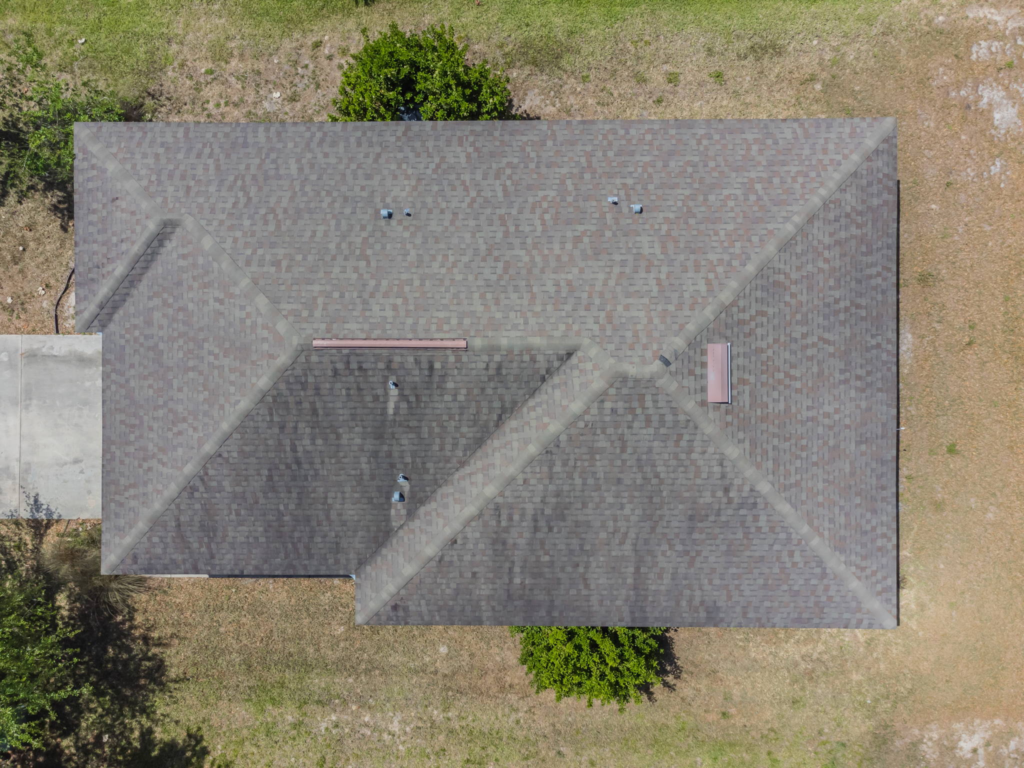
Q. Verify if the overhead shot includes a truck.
No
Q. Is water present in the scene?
No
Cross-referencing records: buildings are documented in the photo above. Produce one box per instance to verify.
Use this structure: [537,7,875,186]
[73,116,905,627]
